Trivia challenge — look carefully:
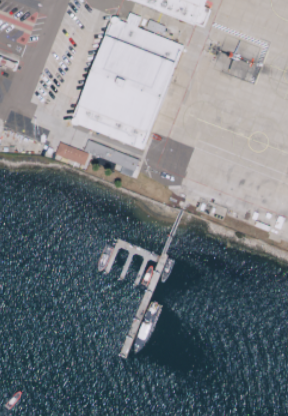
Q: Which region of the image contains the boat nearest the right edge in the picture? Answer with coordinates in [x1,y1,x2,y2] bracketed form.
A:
[162,259,175,282]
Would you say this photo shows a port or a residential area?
port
